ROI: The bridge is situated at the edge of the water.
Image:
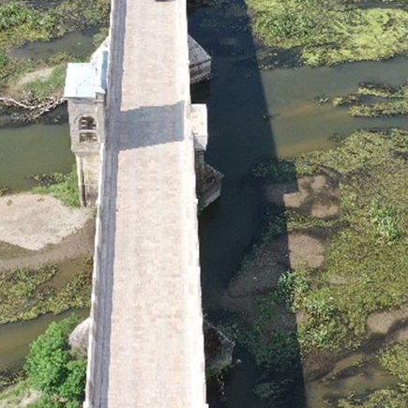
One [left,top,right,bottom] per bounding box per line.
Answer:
[78,0,236,408]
